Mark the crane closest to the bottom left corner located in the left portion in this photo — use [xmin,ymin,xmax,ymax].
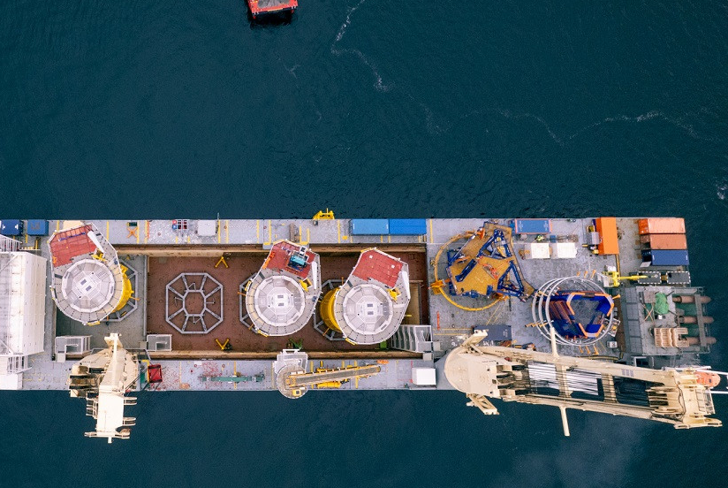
[67,332,145,443]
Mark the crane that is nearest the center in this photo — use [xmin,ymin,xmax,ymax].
[273,349,380,400]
